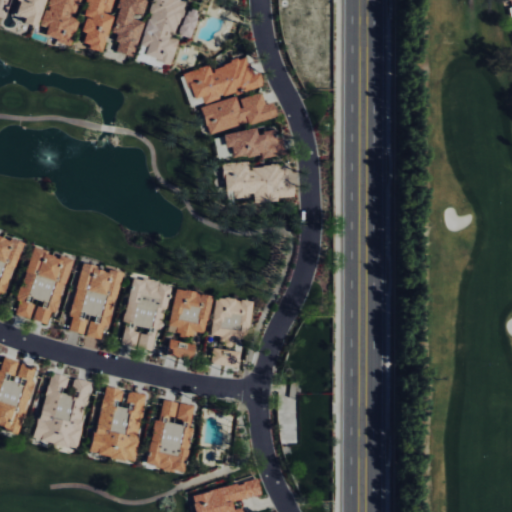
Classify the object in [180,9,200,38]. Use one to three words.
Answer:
building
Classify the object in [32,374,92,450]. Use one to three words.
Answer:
house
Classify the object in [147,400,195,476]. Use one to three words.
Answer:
house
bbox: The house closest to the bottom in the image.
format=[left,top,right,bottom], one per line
[194,480,262,512]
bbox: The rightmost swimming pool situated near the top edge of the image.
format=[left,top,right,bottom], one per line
[194,0,248,52]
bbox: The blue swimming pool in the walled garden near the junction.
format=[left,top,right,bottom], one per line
[200,408,234,448]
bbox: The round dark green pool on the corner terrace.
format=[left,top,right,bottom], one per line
[0,10,33,35]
